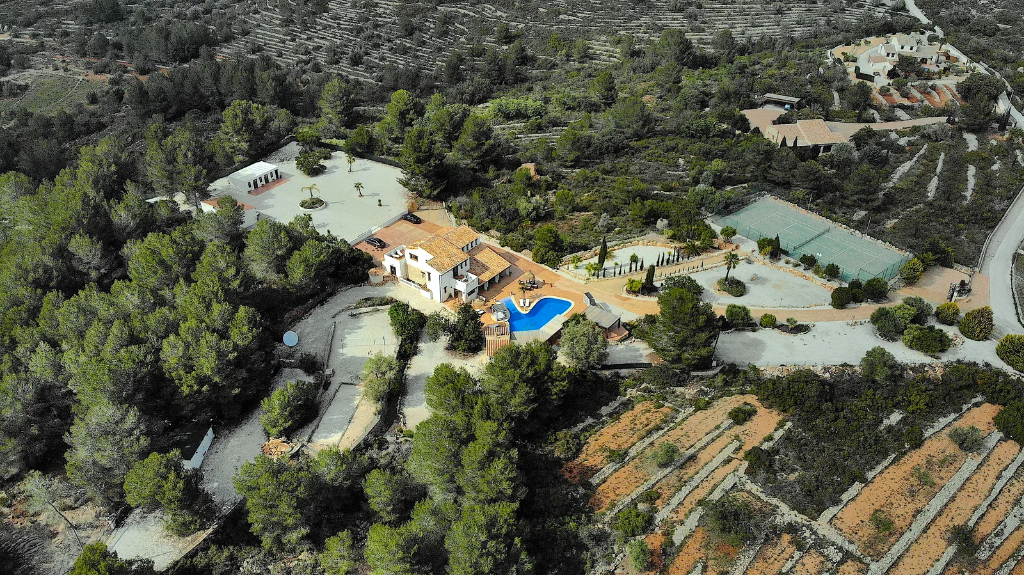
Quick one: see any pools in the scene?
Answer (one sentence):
Yes, a pool is visible in the scene.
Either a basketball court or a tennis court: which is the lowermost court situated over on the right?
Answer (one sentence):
Specifically, the lowermost court situated over on the right is a tennis court.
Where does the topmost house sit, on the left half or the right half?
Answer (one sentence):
It is on the right.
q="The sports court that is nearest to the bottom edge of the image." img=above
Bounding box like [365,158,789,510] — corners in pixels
[330,309,400,384]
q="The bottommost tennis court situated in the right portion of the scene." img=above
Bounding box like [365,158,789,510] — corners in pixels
[716,196,914,289]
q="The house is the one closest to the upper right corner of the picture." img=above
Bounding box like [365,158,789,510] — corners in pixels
[868,36,965,71]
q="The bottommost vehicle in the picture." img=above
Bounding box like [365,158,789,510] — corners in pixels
[363,235,385,249]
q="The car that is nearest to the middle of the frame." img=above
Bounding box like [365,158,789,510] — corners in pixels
[401,212,422,224]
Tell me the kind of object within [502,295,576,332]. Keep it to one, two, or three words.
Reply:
swimming pool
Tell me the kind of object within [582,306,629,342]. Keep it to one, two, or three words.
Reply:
shed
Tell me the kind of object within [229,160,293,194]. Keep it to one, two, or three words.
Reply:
shed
